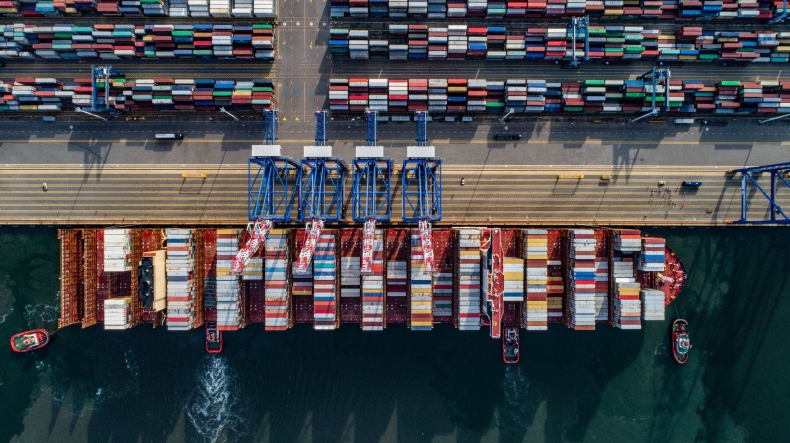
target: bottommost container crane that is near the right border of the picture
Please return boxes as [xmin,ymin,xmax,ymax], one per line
[727,159,790,223]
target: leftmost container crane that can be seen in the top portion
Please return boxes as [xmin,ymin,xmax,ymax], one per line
[92,66,127,118]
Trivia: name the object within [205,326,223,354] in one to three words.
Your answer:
boat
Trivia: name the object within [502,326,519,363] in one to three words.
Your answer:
boat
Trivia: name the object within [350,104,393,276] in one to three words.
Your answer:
container crane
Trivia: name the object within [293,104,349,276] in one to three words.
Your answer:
container crane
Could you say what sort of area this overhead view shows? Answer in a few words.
port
